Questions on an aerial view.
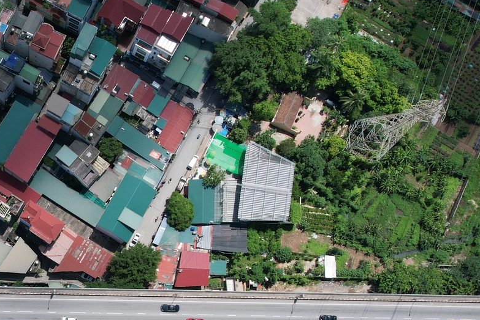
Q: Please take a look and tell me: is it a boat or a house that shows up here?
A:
house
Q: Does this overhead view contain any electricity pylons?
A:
Yes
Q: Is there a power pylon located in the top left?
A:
No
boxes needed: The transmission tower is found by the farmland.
[341,103,438,170]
